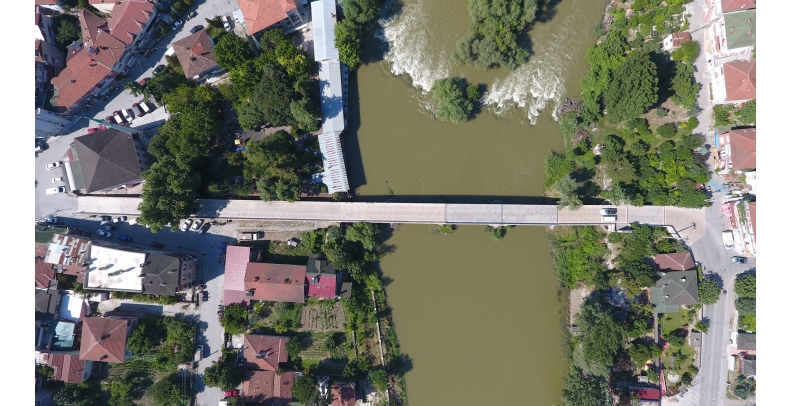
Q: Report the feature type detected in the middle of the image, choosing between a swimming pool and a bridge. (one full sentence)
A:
There is a bridge in the middle of the image.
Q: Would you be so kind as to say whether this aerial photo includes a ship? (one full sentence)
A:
No, there's no ship here.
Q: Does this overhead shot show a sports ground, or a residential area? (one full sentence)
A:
It's a residential area.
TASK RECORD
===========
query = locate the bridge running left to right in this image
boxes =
[77,196,667,228]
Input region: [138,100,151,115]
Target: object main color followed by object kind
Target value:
white vehicle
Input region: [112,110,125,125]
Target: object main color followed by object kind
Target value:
white vehicle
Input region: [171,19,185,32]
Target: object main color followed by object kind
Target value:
blue vehicle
